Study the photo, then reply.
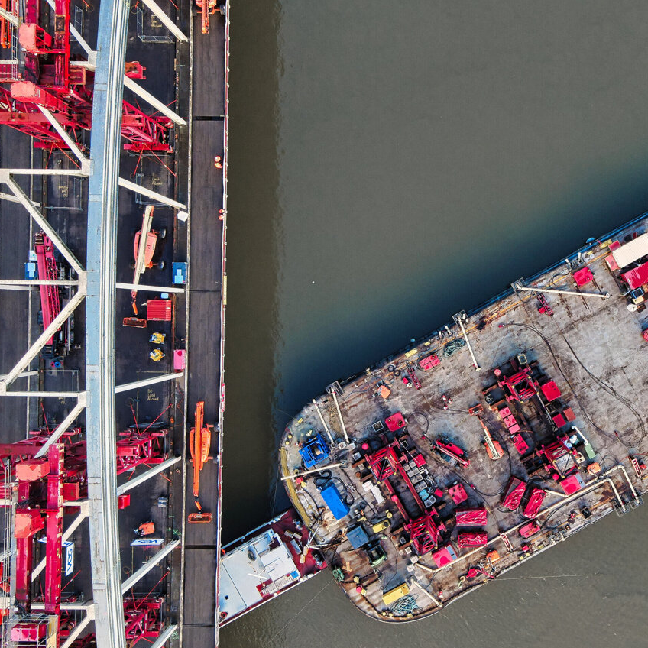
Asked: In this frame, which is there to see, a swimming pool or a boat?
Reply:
boat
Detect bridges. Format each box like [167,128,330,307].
[0,0,233,648]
